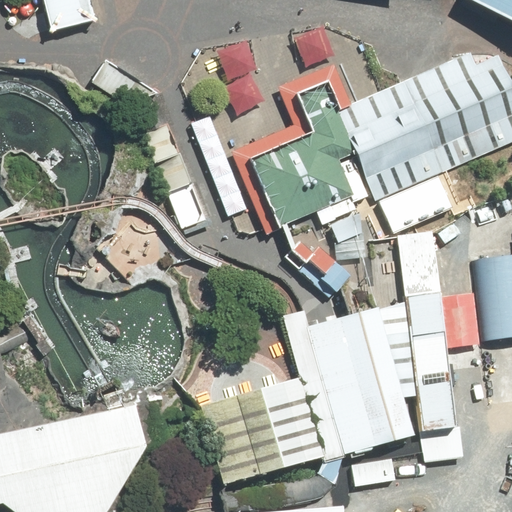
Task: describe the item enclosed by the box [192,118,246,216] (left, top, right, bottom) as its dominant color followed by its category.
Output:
white tent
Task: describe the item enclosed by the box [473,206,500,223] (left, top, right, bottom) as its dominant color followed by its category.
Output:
white vehicle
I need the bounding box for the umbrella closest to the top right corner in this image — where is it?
[295,26,334,68]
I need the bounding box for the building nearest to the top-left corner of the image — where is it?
[43,0,94,32]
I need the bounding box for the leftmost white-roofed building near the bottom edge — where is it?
[0,403,147,512]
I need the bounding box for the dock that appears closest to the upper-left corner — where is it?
[31,148,64,181]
